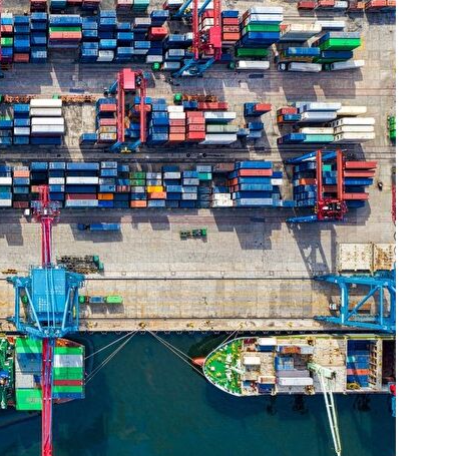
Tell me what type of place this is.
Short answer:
port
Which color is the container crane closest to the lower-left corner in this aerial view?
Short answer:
blue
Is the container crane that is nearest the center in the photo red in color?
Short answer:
Yes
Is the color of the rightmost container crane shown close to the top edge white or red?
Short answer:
red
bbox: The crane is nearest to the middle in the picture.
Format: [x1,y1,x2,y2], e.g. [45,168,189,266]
[282,151,345,224]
